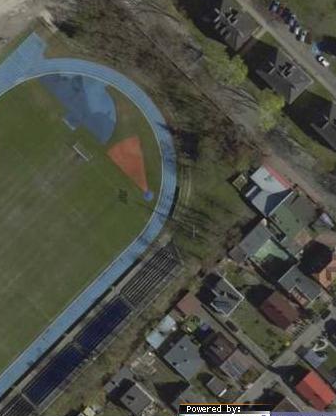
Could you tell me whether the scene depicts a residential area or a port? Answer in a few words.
residential area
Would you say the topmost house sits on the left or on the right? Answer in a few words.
right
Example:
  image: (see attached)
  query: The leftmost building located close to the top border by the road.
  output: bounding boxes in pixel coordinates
[204,0,259,49]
